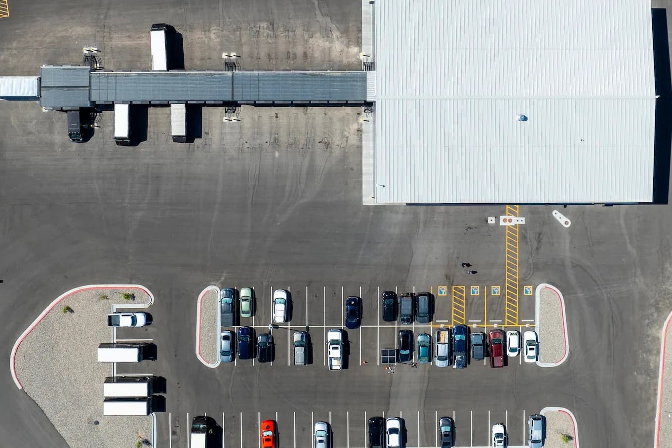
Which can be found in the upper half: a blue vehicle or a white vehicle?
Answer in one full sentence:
There is a white vehicle in the upper half.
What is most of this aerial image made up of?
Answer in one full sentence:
Most of the picture is covered by paved ground.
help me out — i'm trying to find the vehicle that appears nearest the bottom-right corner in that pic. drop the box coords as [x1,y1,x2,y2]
[527,415,544,448]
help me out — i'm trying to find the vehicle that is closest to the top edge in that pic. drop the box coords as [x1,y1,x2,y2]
[150,23,169,68]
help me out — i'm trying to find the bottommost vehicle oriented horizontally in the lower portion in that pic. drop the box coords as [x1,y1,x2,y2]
[103,395,158,417]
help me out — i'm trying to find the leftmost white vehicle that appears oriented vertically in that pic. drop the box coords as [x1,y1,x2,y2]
[115,105,133,145]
